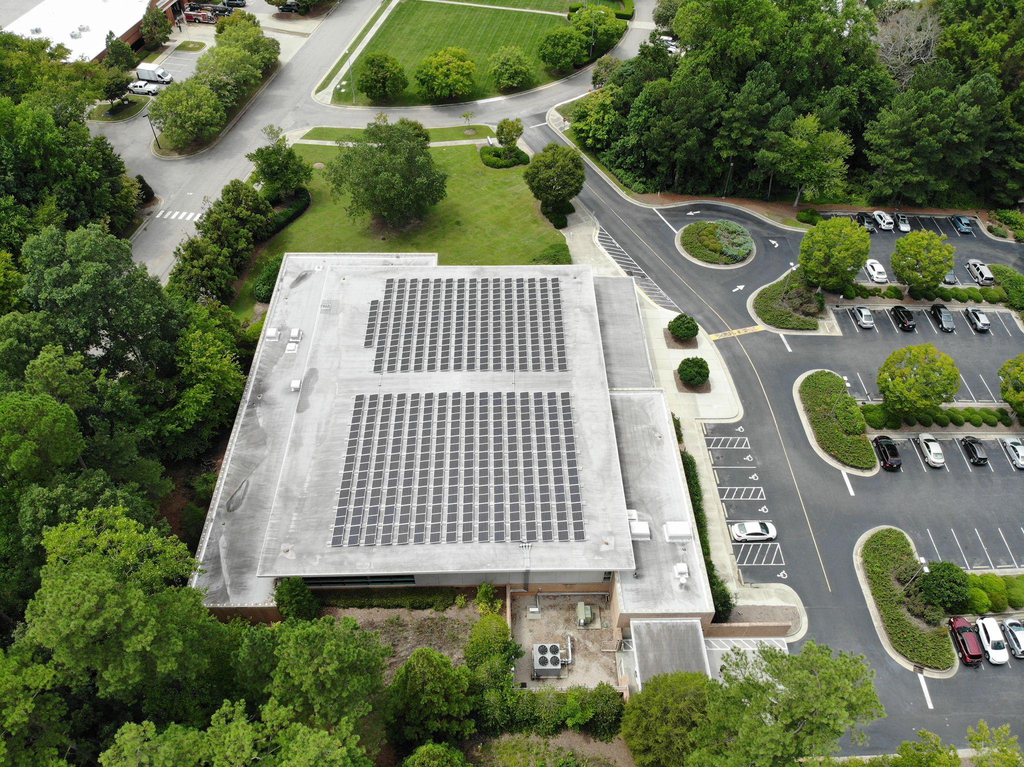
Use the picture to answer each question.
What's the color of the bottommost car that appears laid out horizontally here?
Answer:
white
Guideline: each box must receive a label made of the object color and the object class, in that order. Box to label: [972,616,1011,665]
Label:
white car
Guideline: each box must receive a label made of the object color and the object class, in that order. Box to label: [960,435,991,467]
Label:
gray car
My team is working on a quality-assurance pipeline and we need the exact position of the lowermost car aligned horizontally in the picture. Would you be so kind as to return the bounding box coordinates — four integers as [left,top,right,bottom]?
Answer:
[730,520,778,542]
